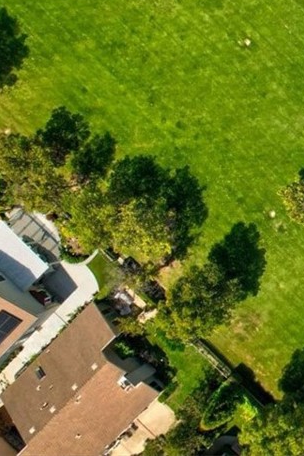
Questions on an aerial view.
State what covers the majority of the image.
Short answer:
grass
